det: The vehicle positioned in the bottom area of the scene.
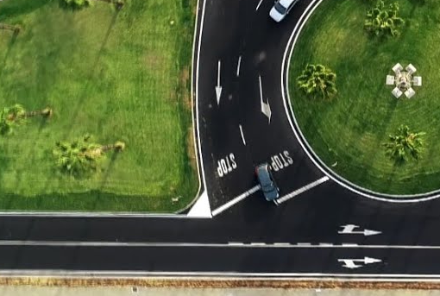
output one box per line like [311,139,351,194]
[255,163,279,200]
